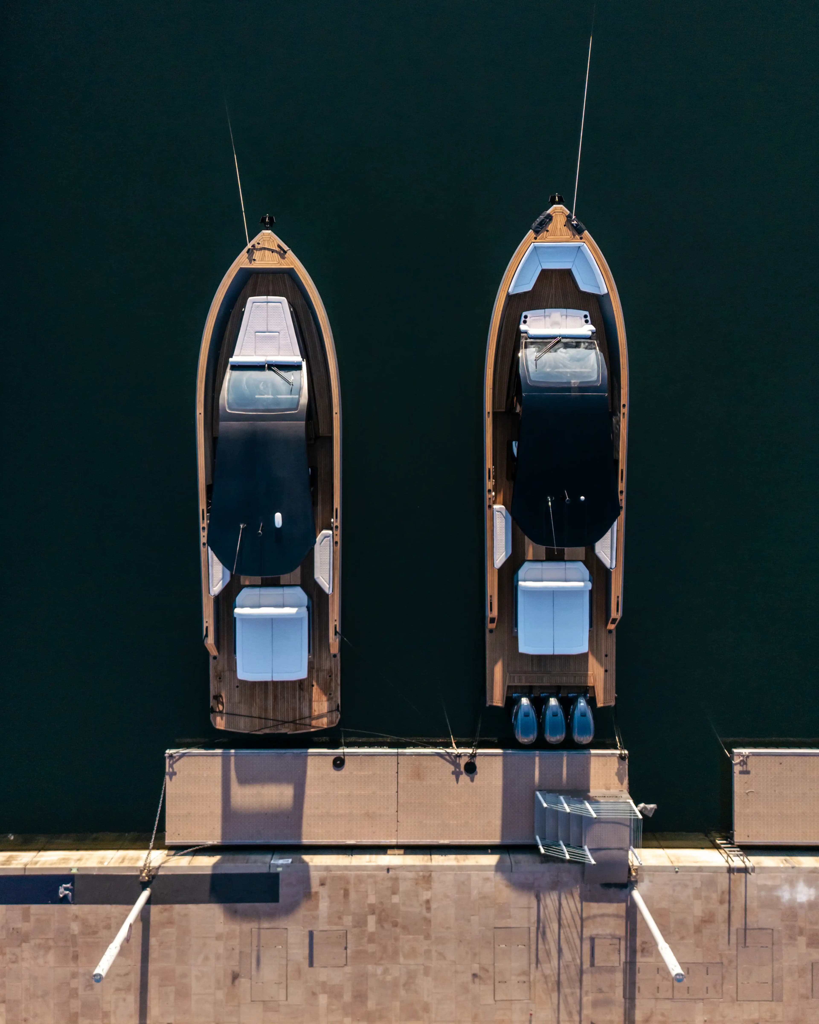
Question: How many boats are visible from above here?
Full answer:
The photo contains 2 boats.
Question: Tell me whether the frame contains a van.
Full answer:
No, there appears to be no van in this shot.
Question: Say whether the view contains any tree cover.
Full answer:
No, no tree cover is visible.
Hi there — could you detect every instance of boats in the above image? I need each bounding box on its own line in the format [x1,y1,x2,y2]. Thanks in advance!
[482,190,627,744]
[197,217,342,733]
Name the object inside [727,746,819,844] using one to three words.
pier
